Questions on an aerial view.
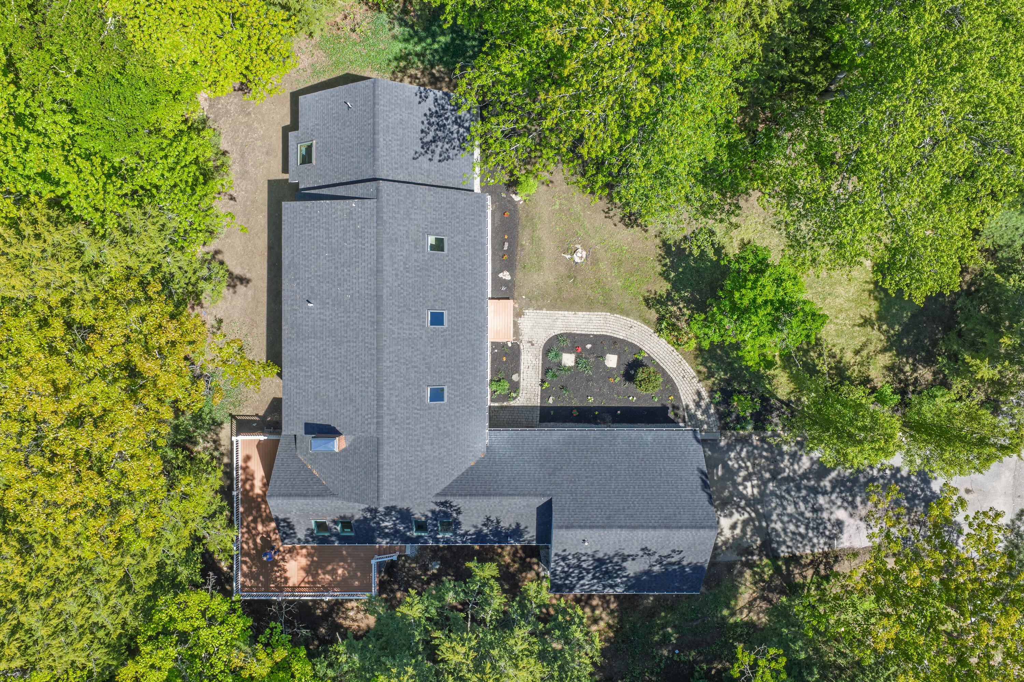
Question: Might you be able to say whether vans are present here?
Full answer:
No, the scene contains no van.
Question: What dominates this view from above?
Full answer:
The largest share of the image is taken up by trees.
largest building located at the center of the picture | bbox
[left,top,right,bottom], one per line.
[267,78,716,596]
